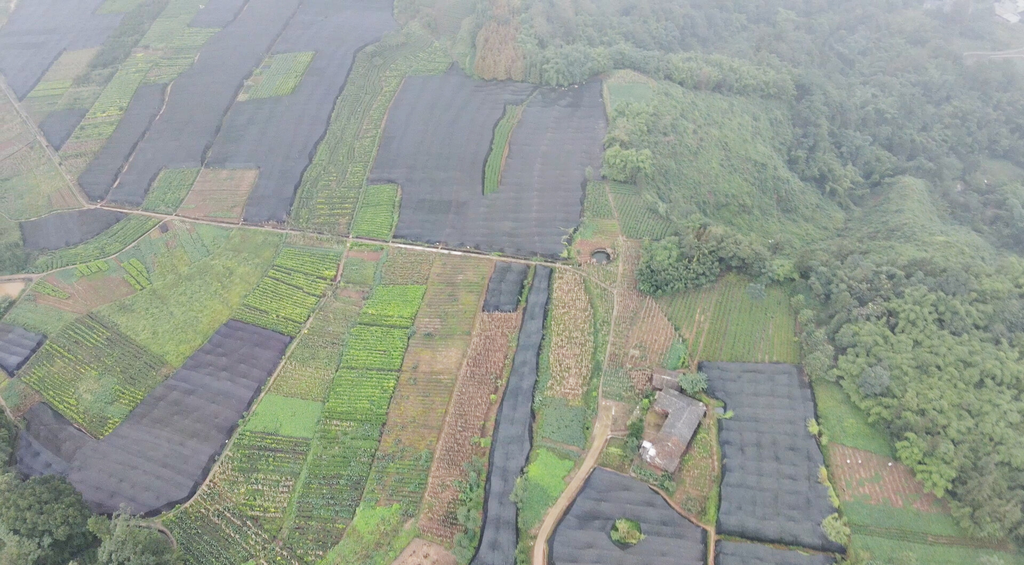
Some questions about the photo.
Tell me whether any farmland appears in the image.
Yes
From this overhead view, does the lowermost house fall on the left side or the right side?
right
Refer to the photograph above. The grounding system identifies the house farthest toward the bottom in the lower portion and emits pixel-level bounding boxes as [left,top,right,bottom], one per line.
[636,387,709,481]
